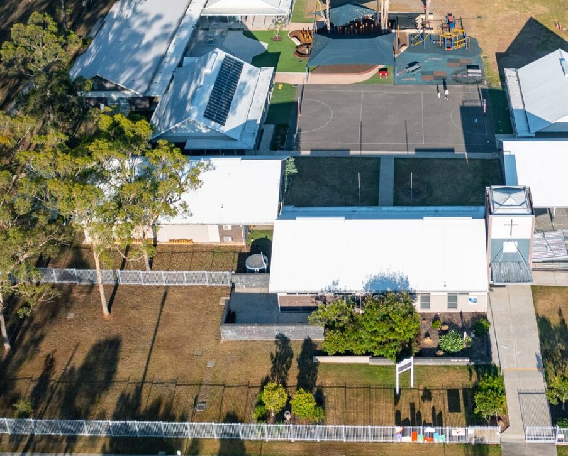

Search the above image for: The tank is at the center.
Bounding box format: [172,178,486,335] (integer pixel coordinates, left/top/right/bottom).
[243,247,270,276]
